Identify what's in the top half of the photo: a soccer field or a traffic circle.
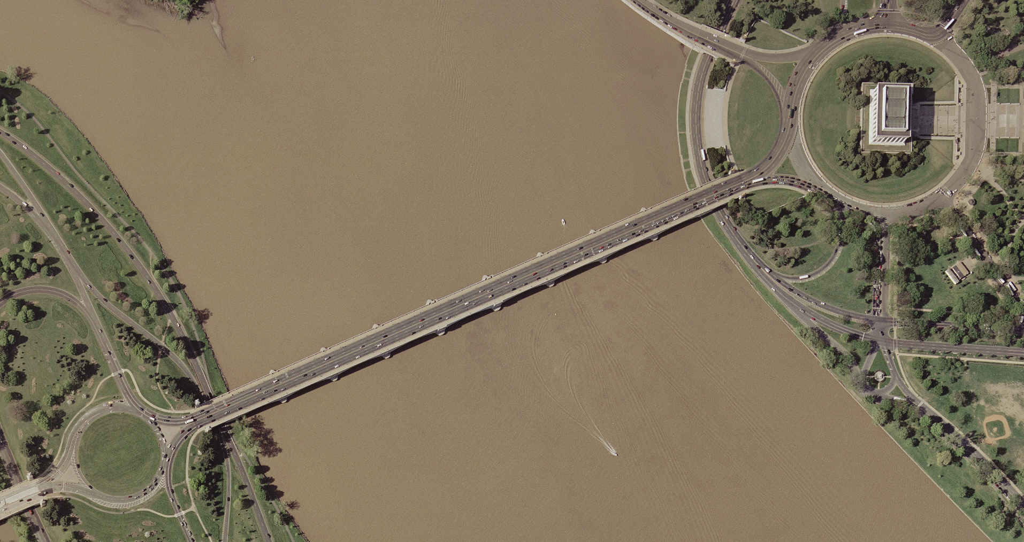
traffic circle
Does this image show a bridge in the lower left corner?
Yes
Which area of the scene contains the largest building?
top right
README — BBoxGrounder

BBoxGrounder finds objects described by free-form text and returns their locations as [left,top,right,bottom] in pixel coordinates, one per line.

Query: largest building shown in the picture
[860,81,955,154]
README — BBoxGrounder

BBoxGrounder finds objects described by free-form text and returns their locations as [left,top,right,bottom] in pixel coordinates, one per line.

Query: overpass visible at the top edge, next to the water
[668,18,731,58]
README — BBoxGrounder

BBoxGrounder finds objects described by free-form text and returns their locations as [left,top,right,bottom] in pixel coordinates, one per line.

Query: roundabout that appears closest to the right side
[723,0,987,216]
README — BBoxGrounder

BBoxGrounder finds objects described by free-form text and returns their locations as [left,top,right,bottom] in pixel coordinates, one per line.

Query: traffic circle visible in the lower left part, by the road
[67,402,172,508]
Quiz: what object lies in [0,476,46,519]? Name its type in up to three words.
bridge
